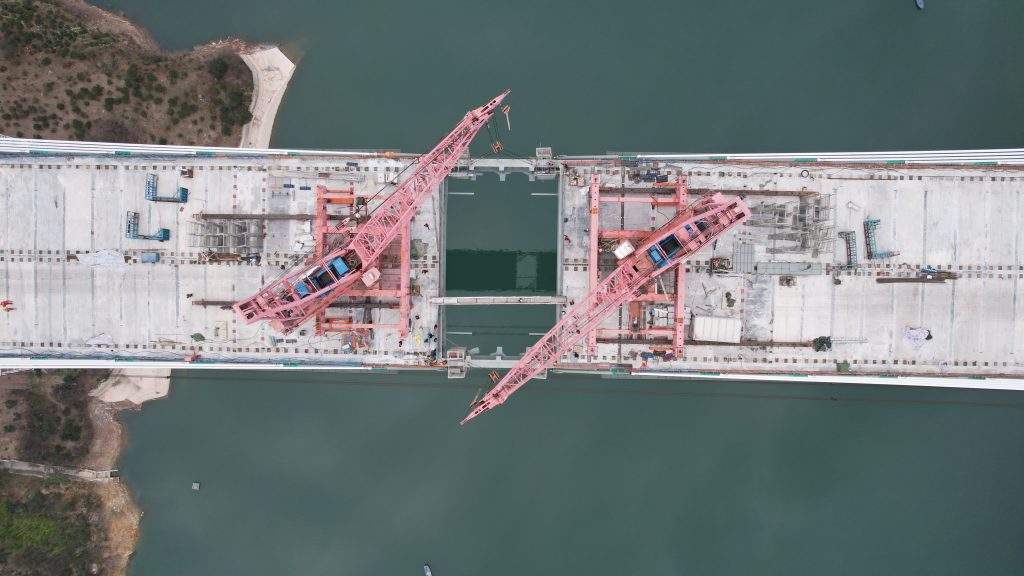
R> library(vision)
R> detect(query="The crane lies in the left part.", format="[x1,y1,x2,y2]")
[233,88,515,337]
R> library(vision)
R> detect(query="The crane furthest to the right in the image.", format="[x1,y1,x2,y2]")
[458,174,753,426]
